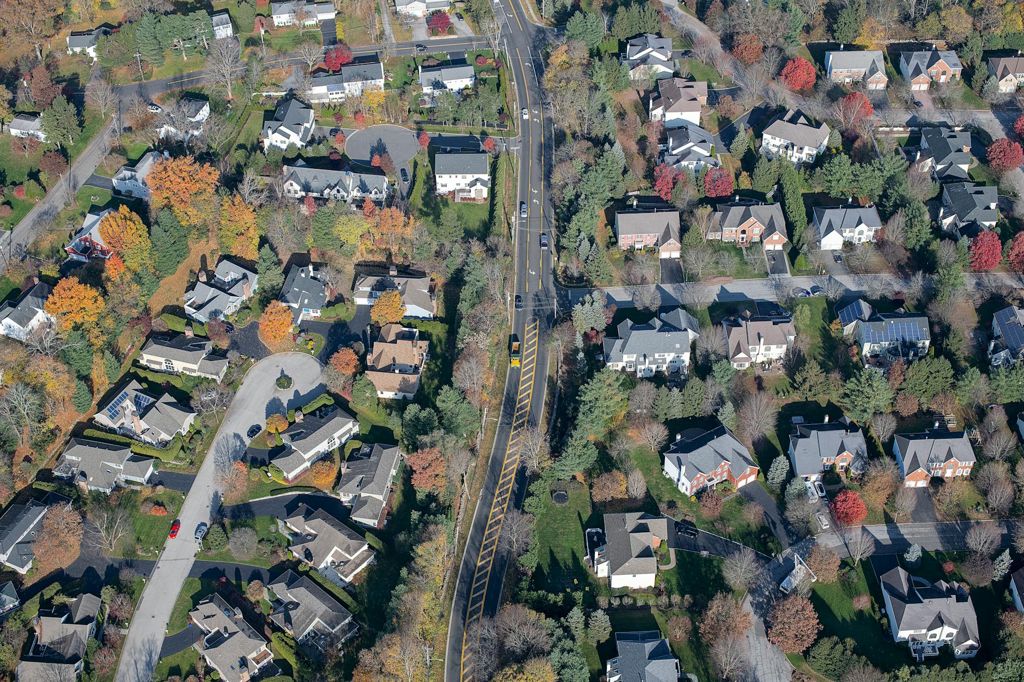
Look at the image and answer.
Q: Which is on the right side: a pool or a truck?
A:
truck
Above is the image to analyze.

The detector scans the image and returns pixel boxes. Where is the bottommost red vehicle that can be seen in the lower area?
[168,521,181,540]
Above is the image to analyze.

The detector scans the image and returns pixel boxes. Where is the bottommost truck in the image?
[782,555,817,589]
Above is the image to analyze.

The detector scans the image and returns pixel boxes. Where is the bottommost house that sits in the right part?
[604,622,677,682]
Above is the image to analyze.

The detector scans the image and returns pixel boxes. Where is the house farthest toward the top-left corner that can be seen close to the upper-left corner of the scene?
[66,22,108,57]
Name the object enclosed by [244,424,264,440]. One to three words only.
car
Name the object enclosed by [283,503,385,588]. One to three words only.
house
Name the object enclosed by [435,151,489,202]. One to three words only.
house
